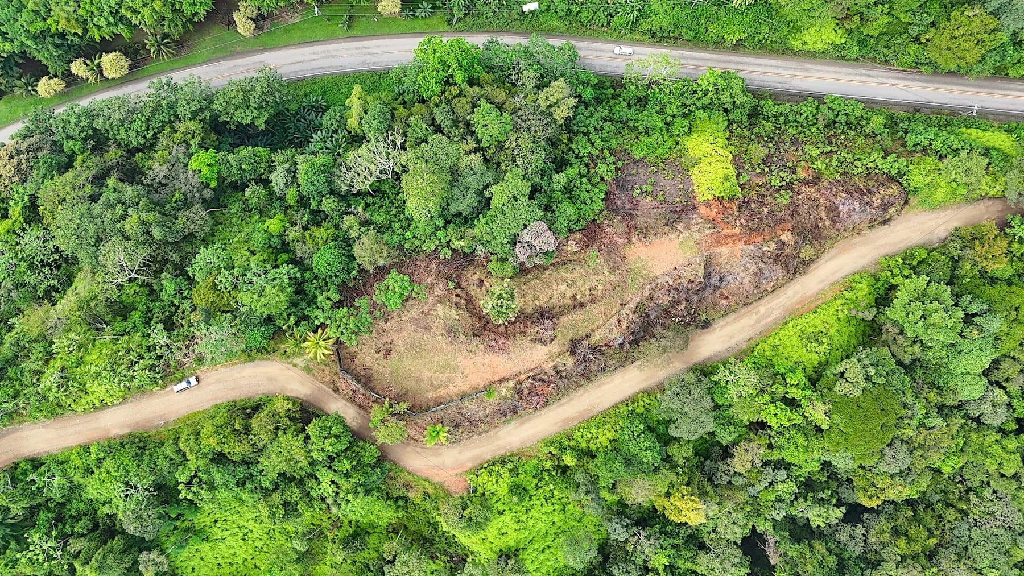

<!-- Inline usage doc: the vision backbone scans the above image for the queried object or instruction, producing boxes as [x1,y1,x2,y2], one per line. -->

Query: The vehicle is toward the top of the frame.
[613,45,635,57]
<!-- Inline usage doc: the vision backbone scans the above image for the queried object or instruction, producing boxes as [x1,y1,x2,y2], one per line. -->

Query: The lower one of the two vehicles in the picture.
[174,375,201,393]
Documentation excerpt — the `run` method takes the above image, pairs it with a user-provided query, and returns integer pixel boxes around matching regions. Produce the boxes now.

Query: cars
[613,45,635,57]
[174,375,201,393]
